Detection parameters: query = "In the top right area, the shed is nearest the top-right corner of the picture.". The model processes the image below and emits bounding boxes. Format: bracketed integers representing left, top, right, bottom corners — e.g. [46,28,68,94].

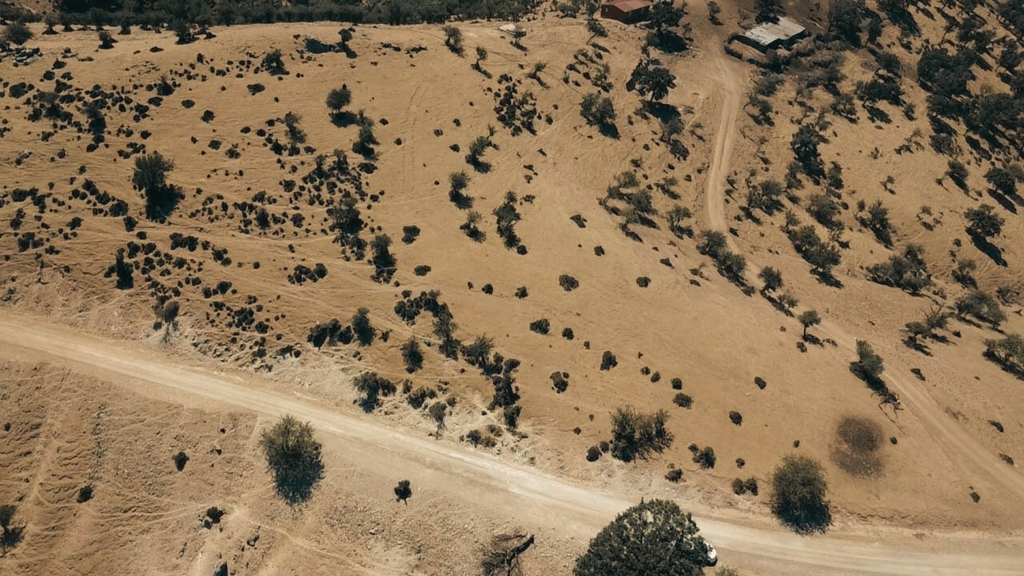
[747,18,804,51]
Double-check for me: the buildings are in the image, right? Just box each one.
[599,0,651,24]
[747,18,804,51]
